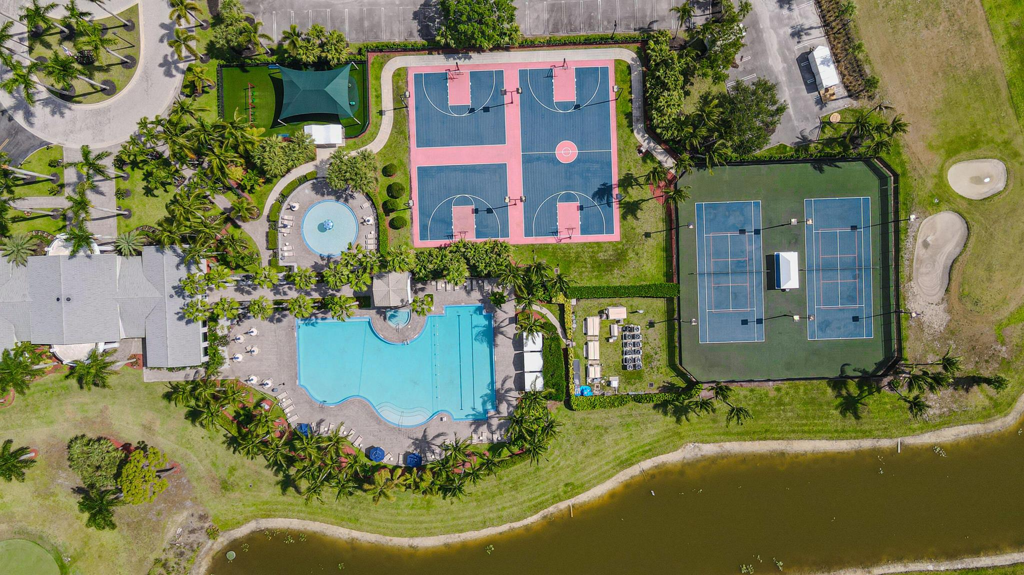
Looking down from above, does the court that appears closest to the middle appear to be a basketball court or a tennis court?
basketball court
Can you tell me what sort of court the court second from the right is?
tennis court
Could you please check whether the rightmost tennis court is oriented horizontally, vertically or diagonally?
vertically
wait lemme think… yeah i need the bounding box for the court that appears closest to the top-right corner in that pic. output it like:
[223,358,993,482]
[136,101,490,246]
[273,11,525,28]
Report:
[805,197,874,340]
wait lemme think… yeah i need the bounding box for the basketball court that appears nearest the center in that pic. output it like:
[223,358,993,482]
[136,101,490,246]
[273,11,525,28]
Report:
[416,162,509,241]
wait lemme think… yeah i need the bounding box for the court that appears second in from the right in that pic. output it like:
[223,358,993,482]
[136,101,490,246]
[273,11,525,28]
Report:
[695,200,765,343]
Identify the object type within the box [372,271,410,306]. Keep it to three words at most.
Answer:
building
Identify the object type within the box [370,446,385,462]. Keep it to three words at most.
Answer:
umbrella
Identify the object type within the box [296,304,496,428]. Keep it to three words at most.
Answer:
swimming pool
